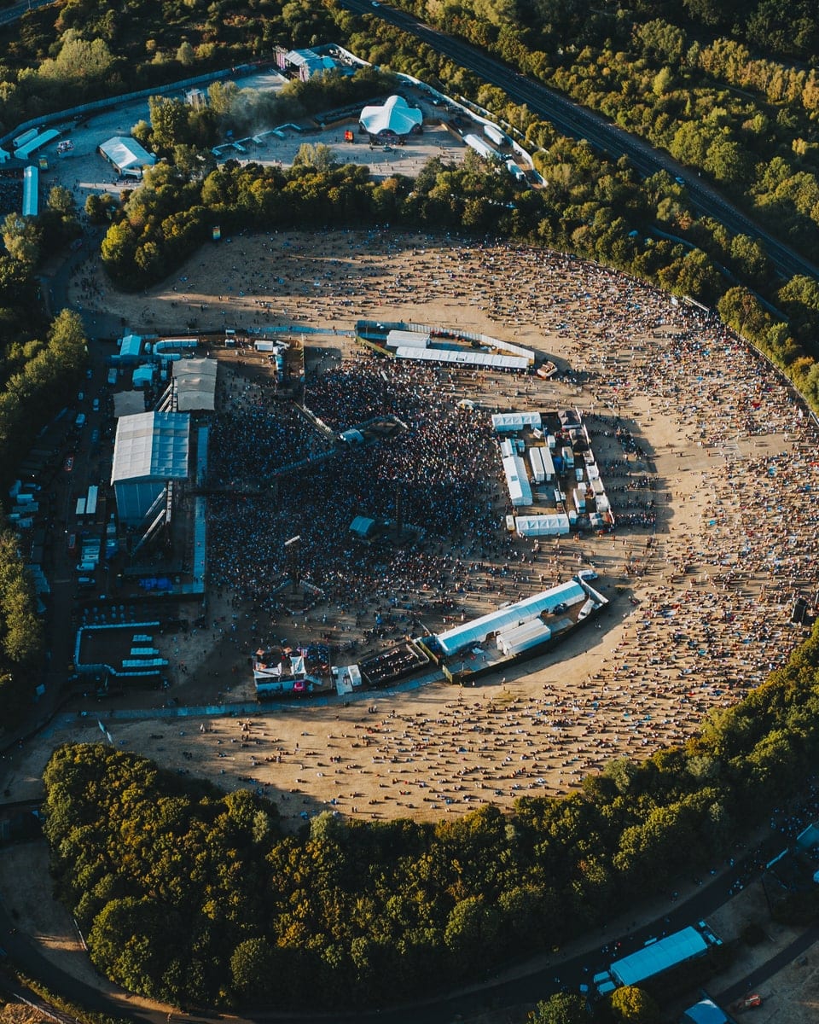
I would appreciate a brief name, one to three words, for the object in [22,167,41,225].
tent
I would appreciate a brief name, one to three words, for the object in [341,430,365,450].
building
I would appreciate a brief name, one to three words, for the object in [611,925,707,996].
tent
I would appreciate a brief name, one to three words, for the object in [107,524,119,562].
vehicle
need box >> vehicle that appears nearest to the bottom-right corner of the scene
[743,994,767,1011]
